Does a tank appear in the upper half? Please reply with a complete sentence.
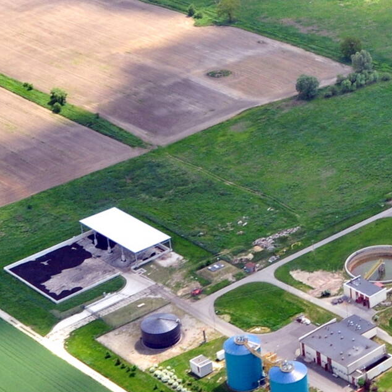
No, I see no tank in the upper half.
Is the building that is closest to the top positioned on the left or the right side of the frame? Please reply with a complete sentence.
The building that is closest to the top is on the right side of the image.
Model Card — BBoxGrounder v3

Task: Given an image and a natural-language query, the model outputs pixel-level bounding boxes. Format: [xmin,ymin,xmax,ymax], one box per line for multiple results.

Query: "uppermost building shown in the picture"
[343,274,389,308]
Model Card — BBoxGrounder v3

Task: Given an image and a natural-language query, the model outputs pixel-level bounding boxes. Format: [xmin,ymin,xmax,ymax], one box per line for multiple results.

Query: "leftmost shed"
[189,355,212,377]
